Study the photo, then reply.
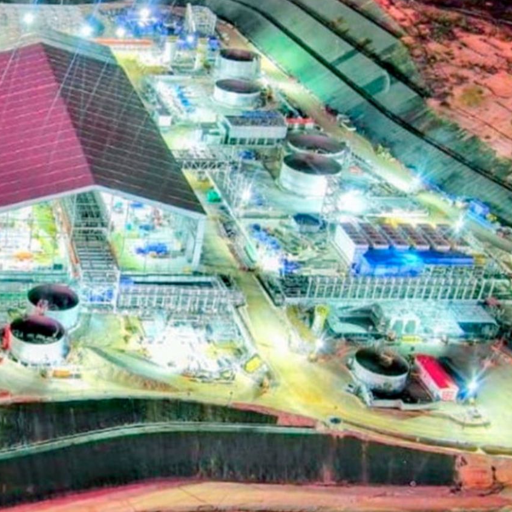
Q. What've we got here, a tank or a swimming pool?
tank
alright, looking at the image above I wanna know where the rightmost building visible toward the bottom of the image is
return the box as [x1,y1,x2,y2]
[454,304,505,337]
